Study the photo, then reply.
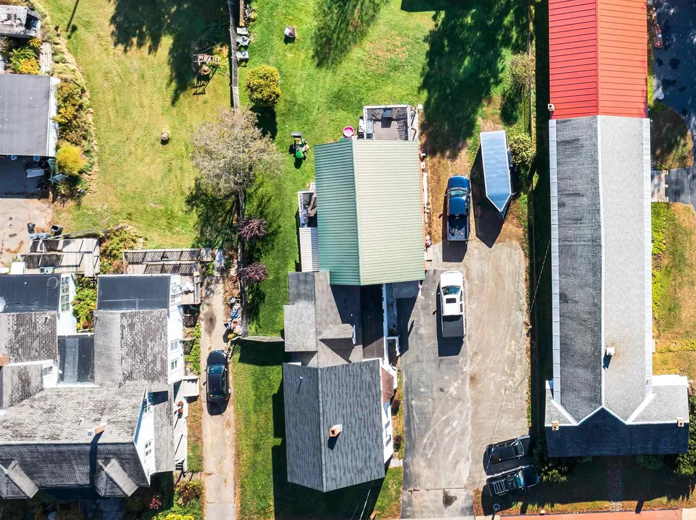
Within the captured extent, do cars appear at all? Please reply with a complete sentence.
Yes, the image includes a car.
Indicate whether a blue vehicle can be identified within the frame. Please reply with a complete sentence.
Yes, the picture does show a blue vehicle.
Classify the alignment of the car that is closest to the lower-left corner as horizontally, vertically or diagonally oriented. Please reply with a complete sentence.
Seen from above, the car that is closest to the lower-left corner lies vertically.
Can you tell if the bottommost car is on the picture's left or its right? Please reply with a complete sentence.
The bottommost car is on the right side of the image.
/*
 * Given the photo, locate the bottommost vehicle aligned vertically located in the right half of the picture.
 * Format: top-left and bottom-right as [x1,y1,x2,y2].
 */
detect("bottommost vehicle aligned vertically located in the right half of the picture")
[436,271,464,338]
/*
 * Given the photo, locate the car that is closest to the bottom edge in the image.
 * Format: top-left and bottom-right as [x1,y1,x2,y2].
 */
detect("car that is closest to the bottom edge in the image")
[487,464,540,498]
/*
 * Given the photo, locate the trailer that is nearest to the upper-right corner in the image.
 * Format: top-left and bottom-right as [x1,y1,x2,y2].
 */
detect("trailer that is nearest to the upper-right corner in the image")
[480,129,514,225]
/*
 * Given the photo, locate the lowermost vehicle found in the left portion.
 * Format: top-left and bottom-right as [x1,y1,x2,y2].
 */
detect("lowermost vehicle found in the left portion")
[203,349,232,404]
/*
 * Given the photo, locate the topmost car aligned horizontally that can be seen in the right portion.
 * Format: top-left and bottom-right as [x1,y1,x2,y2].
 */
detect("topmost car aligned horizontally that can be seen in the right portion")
[480,433,534,464]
